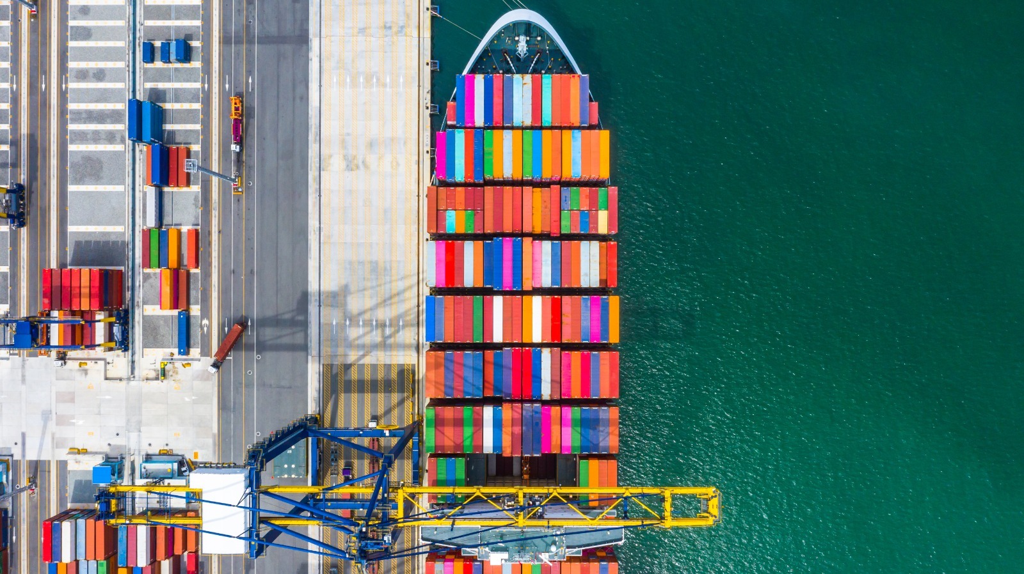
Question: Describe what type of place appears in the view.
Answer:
port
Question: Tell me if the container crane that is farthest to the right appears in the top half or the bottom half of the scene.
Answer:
bottom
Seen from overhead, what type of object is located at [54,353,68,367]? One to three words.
vehicle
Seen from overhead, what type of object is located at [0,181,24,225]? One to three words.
container crane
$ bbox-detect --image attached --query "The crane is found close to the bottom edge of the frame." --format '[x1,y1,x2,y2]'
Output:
[95,402,726,570]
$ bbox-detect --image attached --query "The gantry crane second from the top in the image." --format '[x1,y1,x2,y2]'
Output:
[0,308,128,353]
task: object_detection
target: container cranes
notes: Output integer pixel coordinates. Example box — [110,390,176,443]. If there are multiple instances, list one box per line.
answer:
[95,402,726,570]
[0,308,128,353]
[0,181,24,225]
